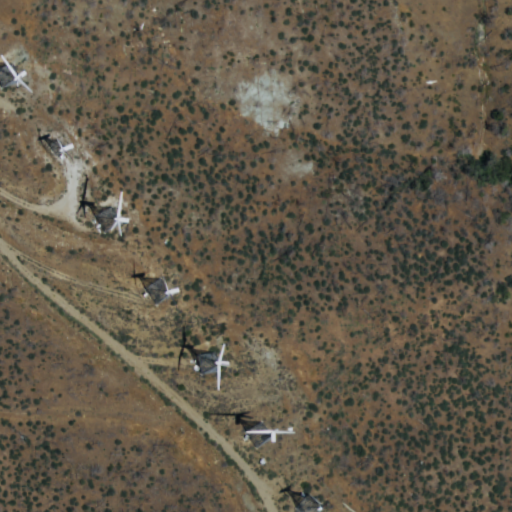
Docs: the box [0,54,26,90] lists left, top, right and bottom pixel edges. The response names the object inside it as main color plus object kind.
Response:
white wind turbine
